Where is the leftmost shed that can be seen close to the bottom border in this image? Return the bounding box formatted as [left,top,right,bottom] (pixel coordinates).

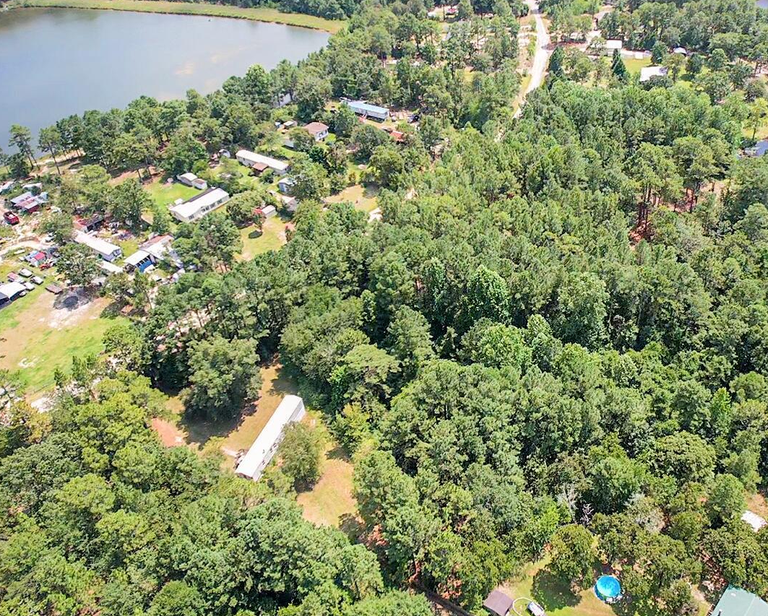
[485,590,513,616]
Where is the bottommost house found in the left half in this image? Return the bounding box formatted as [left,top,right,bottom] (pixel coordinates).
[232,395,303,483]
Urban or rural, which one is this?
rural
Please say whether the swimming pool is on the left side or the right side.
right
